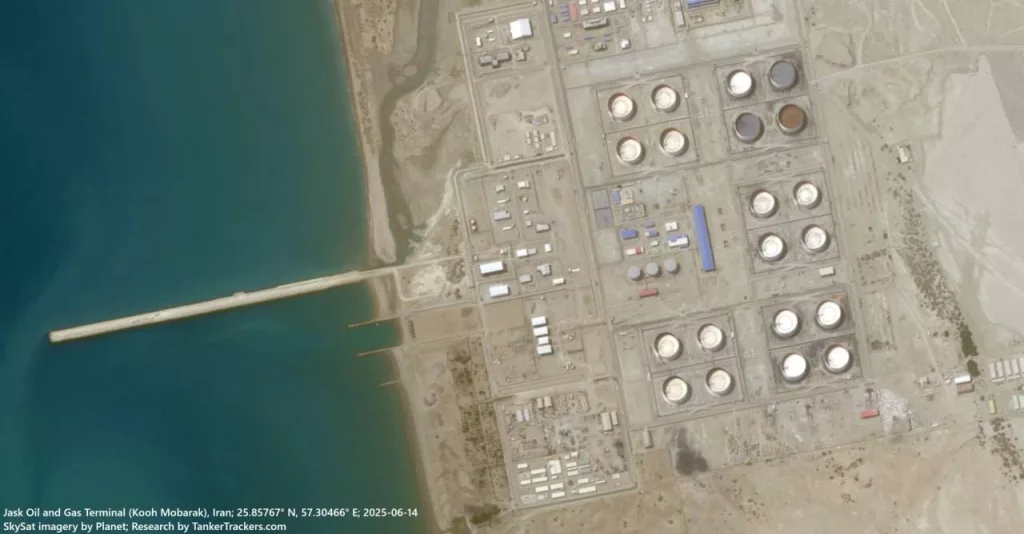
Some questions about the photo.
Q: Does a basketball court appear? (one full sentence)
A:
No, there appears to be no basketball court in this shot.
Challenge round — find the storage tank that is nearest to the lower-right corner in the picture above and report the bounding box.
[823,343,851,372]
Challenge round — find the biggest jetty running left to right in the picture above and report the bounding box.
[48,265,401,342]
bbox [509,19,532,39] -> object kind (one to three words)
building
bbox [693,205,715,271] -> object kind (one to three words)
building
